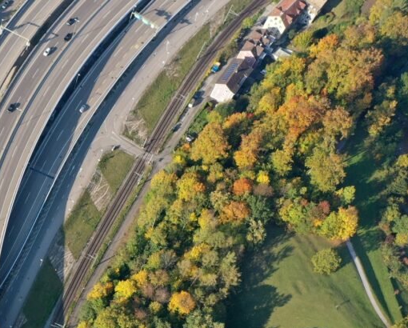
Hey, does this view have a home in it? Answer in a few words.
Yes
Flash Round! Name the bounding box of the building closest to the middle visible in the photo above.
[208,54,250,97]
